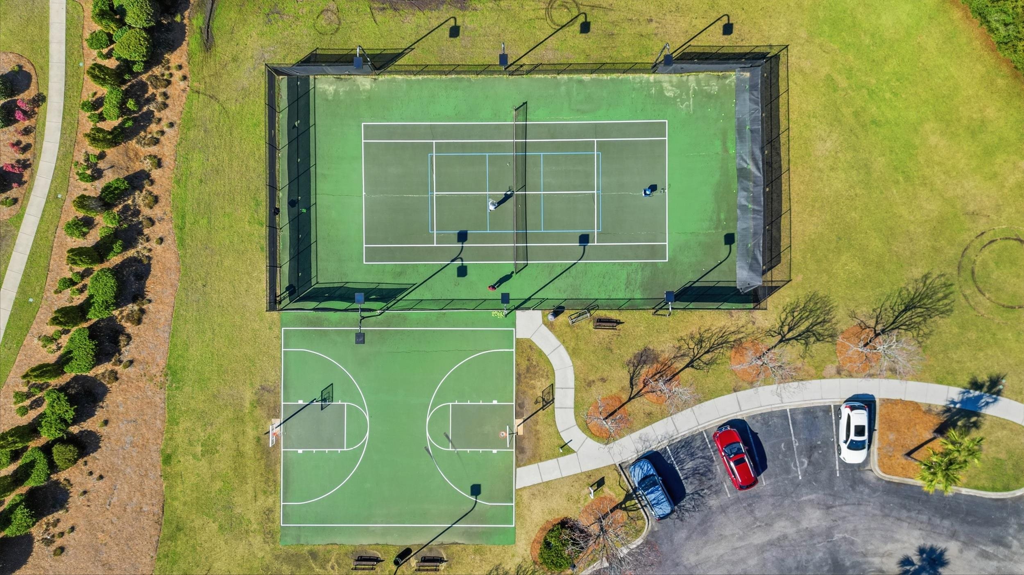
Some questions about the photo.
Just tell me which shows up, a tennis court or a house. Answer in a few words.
tennis court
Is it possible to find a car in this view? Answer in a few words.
Yes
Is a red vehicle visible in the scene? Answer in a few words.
Yes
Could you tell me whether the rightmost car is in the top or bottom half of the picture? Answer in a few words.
bottom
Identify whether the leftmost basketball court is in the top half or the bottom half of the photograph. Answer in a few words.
bottom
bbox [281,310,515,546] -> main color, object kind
green basketball court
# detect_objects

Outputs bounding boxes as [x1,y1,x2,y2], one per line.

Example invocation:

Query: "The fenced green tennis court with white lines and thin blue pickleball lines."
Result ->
[281,74,753,310]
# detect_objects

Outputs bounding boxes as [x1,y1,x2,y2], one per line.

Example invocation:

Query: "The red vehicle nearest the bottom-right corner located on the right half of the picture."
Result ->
[715,426,757,491]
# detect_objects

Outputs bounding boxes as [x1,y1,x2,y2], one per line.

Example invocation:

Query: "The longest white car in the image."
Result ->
[838,402,871,462]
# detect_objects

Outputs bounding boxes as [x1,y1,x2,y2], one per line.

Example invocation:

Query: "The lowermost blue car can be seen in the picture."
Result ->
[632,457,675,522]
